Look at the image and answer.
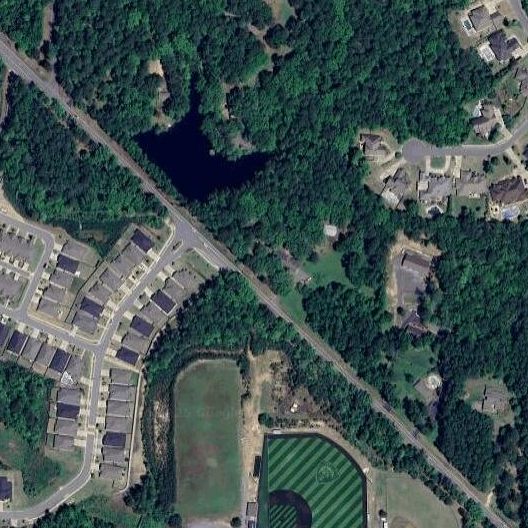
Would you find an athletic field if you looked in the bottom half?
Yes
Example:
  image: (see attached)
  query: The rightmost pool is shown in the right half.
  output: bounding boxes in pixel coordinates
[500,203,521,220]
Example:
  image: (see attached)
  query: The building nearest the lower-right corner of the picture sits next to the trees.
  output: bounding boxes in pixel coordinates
[479,387,508,415]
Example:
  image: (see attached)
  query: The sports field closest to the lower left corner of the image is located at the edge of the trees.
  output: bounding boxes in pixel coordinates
[175,359,241,516]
